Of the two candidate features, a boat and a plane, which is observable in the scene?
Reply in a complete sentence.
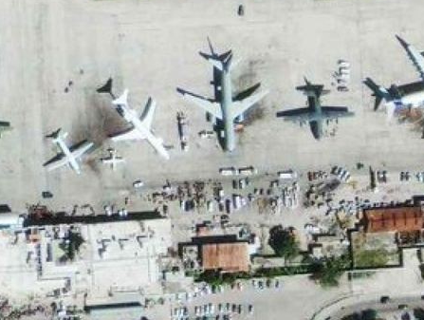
Visible in the photo is a plane.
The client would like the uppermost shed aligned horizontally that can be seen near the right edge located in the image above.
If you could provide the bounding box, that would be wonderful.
[361,206,424,233]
